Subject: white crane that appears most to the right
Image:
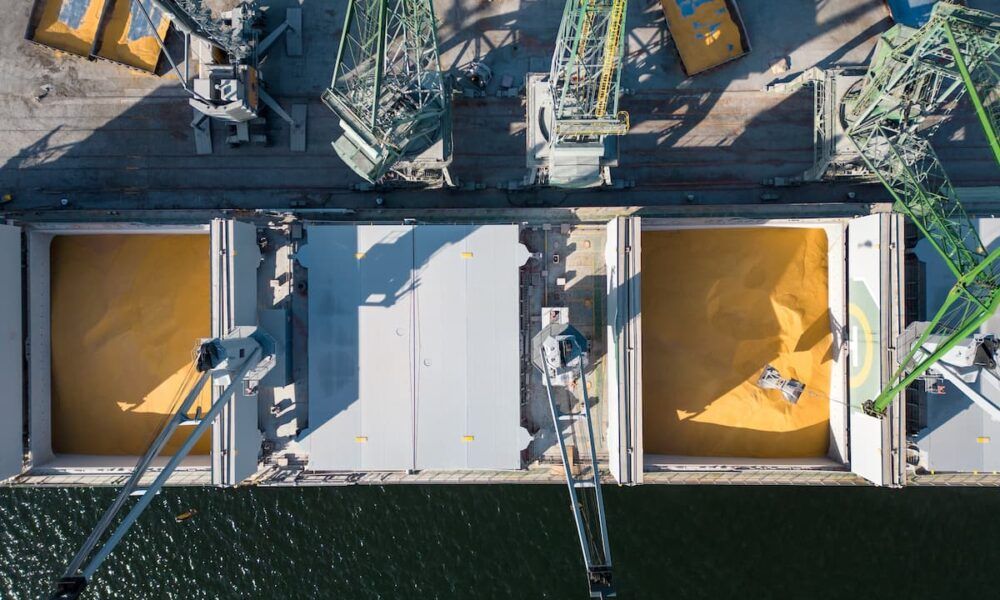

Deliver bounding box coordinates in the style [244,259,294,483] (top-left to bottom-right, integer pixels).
[891,315,1000,433]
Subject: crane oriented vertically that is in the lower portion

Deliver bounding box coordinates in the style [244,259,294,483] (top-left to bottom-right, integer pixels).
[528,298,612,600]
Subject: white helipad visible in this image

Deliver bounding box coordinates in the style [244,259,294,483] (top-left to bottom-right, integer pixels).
[849,279,880,422]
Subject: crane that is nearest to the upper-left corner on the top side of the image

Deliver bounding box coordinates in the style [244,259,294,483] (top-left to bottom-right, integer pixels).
[120,0,308,159]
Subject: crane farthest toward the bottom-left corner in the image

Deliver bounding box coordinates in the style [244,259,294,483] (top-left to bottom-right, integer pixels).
[56,301,297,600]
